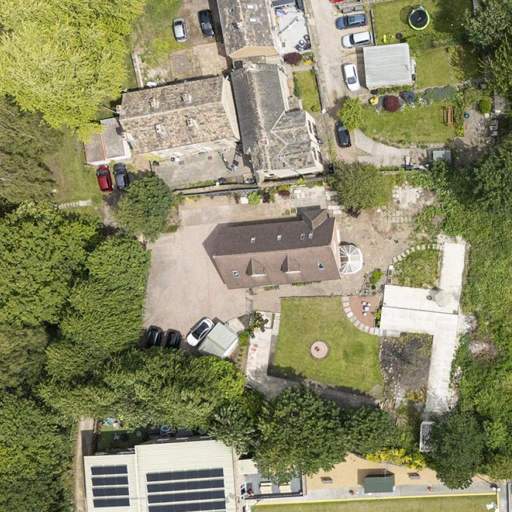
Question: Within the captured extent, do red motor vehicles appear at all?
Yes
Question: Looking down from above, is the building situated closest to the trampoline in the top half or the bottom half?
top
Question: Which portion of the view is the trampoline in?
top right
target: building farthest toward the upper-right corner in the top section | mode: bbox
[363,41,413,93]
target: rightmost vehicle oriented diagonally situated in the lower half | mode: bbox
[188,317,214,346]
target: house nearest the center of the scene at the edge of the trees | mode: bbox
[213,207,343,290]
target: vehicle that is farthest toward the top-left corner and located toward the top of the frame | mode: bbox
[172,17,189,44]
